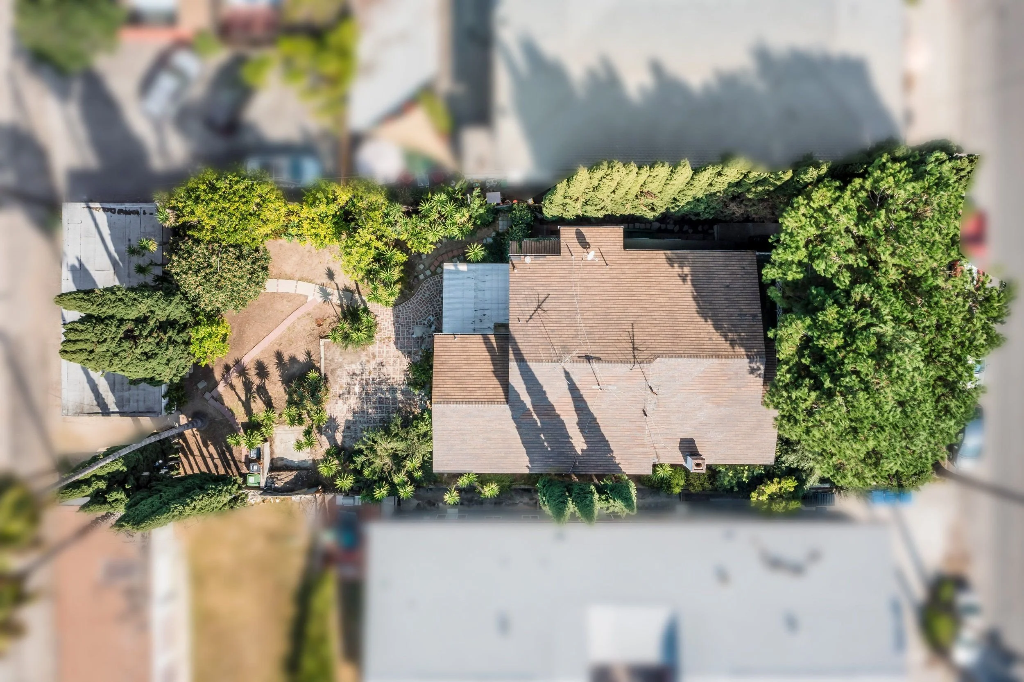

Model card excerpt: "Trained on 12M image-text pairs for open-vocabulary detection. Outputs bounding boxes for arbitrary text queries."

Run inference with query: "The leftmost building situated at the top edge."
[179,0,233,53]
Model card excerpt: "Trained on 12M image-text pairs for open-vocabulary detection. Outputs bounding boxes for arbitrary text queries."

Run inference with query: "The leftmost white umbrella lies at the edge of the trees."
[353,131,400,178]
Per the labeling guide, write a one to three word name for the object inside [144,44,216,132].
car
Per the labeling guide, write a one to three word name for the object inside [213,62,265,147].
car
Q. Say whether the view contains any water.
No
